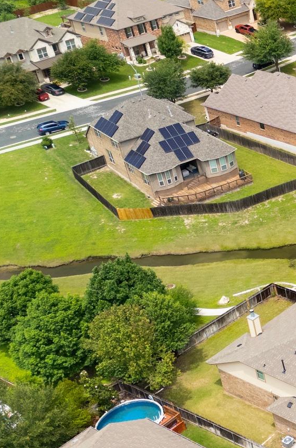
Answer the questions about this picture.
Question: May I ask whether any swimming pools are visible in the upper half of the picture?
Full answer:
No, I can find no swimming pool in the upper half of the picture.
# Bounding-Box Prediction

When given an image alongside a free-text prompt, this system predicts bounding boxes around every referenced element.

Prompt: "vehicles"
[42,84,64,94]
[234,23,252,37]
[28,88,50,99]
[190,45,213,57]
[36,118,67,133]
